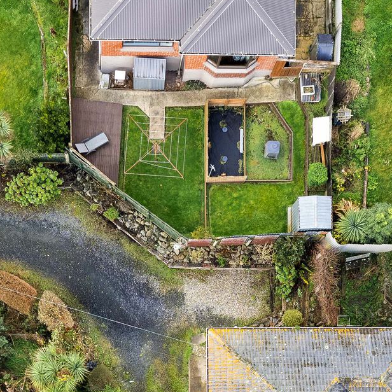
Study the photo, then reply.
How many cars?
none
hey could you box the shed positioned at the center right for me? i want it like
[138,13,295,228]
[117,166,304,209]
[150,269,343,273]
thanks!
[287,196,332,239]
